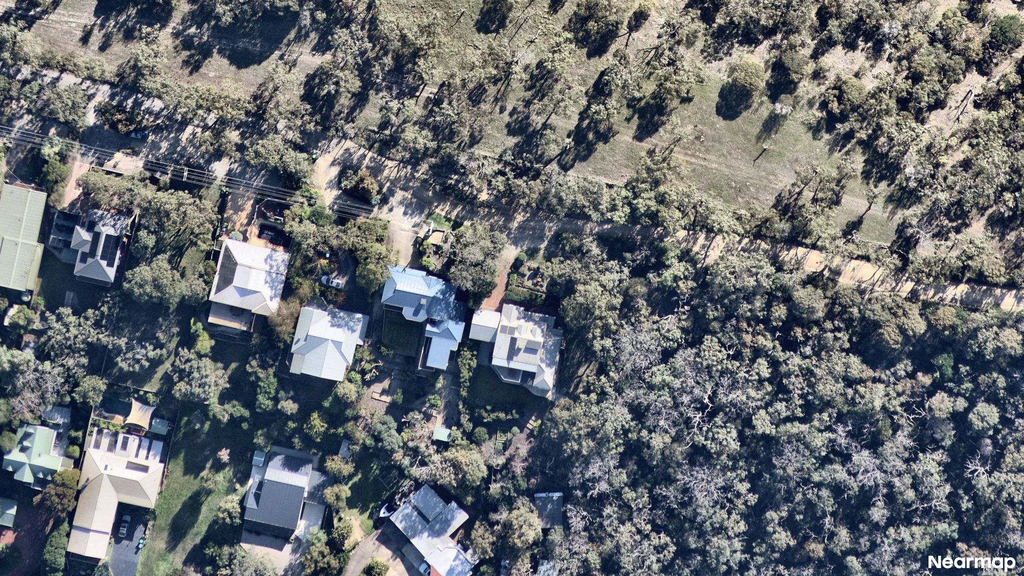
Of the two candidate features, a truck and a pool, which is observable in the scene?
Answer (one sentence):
Visible in the photo is a pool.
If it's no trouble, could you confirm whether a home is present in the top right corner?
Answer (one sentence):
No, I can find no home in the top right corner.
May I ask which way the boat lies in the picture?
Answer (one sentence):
Seen from above, the boat lies on a diagonal.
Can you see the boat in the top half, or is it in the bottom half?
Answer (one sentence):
Seen from above, the boat lies in the bottom half of the view.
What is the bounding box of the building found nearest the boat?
[390,486,474,576]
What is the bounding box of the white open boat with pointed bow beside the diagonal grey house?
[377,499,399,519]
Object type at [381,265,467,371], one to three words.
house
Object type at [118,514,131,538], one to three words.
vehicle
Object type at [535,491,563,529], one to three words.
shed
